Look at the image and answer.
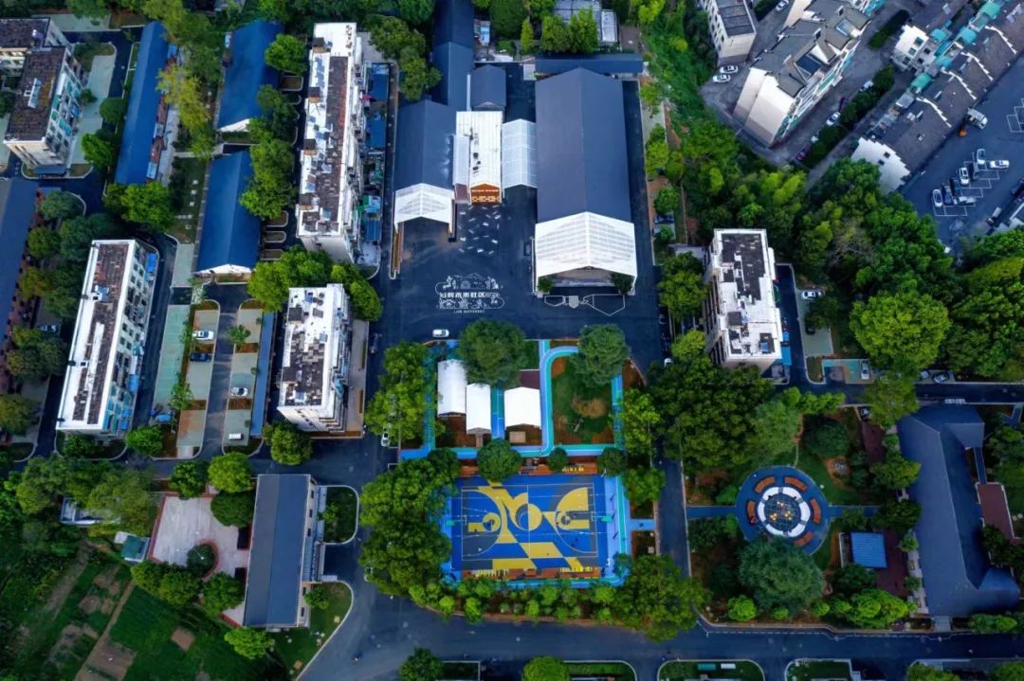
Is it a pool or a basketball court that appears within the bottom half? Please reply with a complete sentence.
There is a basketball court within the bottom half.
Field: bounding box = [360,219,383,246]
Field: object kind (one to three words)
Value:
shed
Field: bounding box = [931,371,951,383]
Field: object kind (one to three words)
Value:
vehicle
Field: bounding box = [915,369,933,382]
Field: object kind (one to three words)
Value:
vehicle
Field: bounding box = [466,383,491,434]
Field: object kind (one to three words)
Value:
tent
